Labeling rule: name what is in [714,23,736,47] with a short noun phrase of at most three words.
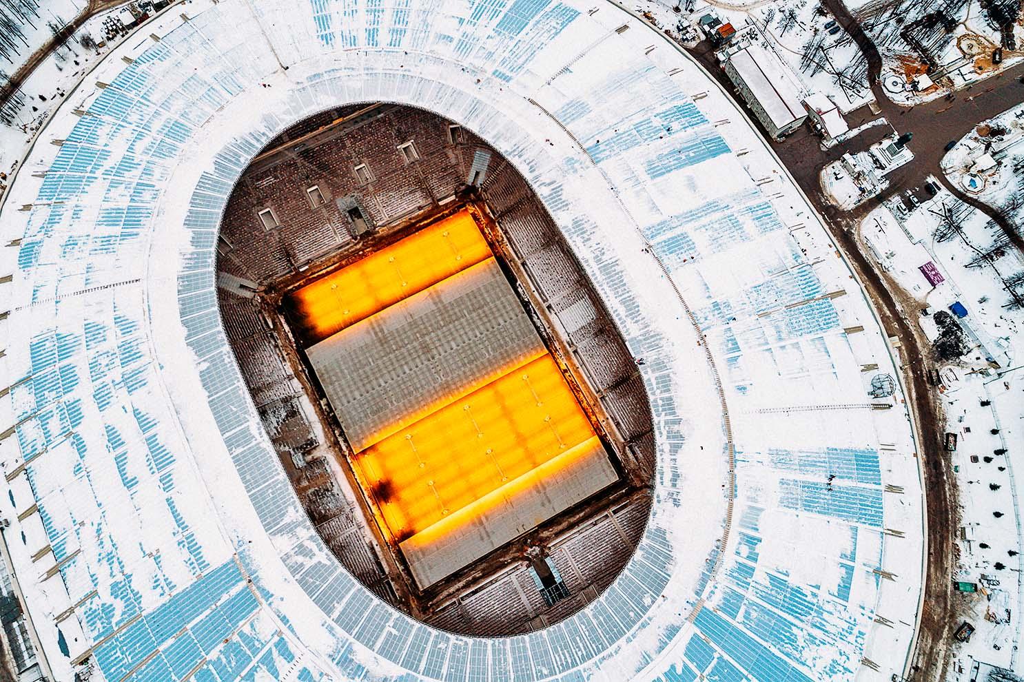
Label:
house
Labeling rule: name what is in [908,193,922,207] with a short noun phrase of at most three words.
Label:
car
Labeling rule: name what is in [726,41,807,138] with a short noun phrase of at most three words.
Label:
building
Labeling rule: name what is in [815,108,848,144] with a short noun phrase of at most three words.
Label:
building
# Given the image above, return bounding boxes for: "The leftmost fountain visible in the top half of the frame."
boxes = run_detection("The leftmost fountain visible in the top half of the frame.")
[880,69,911,97]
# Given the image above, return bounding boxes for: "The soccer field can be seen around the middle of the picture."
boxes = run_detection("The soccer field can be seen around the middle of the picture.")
[285,210,620,590]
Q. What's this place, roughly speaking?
sports ground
